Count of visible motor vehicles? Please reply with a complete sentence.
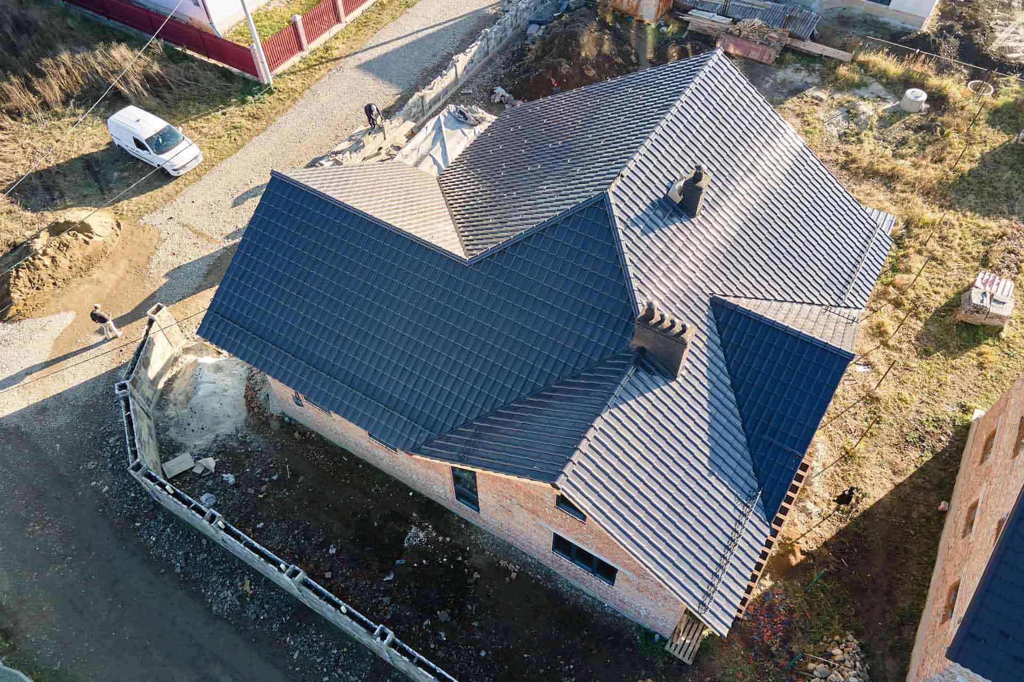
The count comes to 1 motor vehicle.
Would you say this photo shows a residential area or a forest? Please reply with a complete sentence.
This looks like a residential area.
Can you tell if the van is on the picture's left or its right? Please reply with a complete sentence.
The van is on the left side of the image.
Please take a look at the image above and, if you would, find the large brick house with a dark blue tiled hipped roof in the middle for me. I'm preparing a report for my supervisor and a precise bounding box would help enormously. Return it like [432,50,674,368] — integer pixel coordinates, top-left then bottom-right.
[196,43,896,640]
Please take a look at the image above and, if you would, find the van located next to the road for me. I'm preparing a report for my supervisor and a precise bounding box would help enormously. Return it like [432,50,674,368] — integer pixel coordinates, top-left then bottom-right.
[107,110,200,179]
